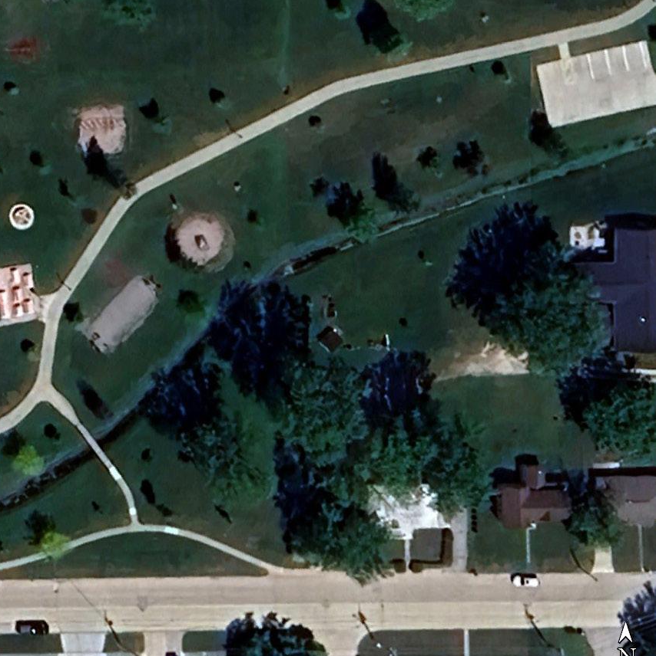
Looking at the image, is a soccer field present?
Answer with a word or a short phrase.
No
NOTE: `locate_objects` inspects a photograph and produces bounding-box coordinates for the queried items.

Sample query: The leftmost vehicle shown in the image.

[19,624,48,637]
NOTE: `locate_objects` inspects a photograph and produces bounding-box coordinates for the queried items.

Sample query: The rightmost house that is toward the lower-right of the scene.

[599,473,656,530]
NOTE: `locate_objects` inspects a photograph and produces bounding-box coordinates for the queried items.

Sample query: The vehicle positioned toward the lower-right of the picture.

[513,578,542,591]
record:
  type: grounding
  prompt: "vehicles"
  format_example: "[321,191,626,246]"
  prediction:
[513,578,542,591]
[19,624,48,637]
